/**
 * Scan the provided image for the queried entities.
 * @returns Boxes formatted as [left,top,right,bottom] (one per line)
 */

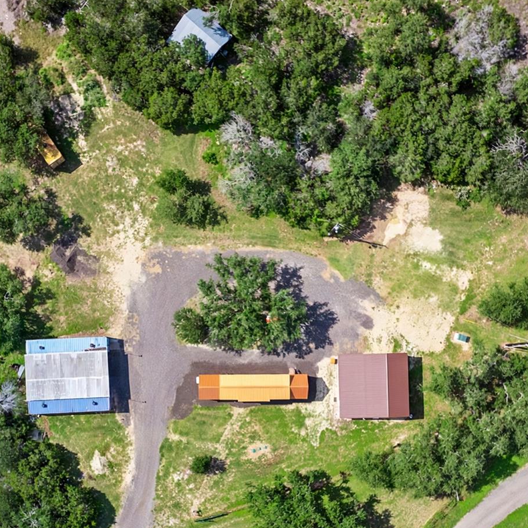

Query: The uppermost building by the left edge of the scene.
[24,337,112,415]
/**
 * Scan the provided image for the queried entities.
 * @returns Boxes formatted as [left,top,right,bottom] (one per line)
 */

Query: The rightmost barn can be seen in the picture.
[337,353,410,420]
